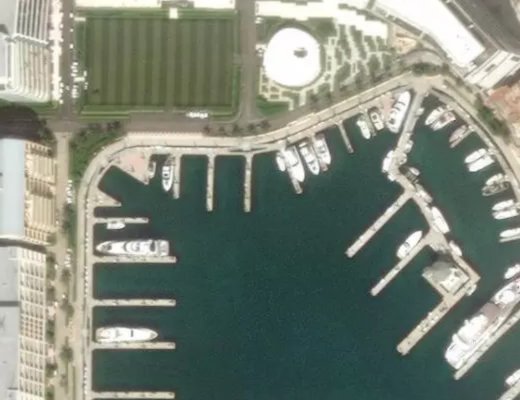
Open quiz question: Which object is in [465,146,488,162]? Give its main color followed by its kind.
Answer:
white boat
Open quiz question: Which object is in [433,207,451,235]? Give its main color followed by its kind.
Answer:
white boat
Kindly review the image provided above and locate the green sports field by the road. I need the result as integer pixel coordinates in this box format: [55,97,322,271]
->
[79,9,239,121]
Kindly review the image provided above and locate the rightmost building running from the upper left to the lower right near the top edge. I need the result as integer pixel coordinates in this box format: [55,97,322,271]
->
[373,0,489,69]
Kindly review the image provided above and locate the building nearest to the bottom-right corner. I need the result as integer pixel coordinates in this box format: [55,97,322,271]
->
[419,258,474,299]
